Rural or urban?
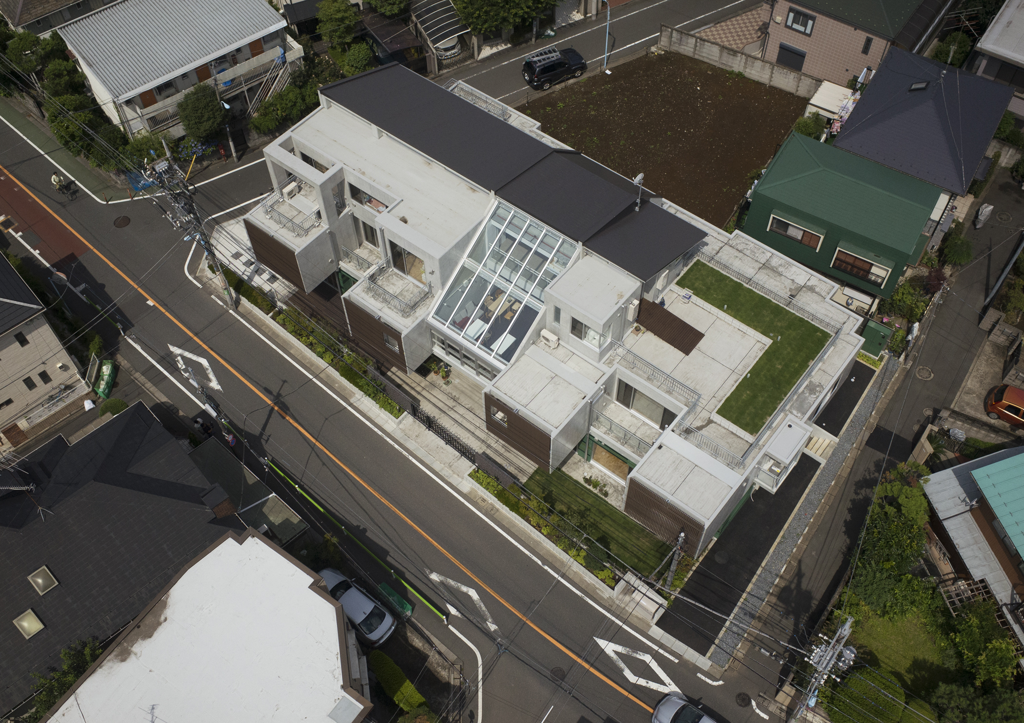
urban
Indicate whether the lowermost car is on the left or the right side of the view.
right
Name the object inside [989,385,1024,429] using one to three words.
car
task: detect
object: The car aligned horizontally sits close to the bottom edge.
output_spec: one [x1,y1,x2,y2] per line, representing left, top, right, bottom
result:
[638,686,722,723]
